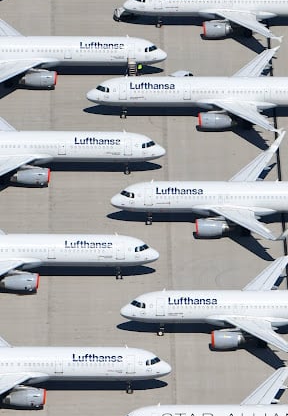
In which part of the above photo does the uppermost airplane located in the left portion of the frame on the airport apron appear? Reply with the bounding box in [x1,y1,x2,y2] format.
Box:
[0,16,166,87]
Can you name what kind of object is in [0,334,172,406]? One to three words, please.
airplane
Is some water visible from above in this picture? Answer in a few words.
No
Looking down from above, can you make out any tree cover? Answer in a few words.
No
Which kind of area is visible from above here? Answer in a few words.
airport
